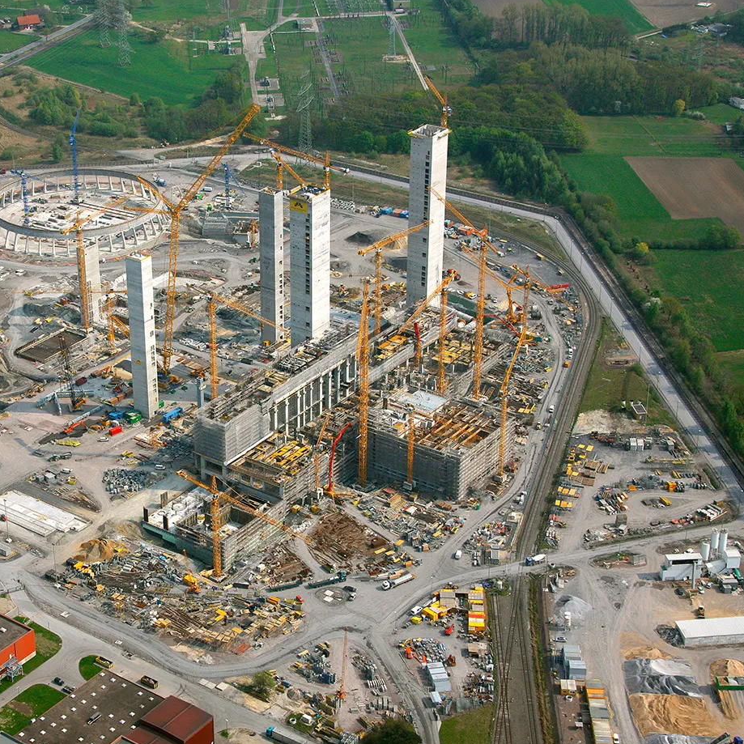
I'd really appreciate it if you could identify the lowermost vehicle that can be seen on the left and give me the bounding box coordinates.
[263,720,309,744]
